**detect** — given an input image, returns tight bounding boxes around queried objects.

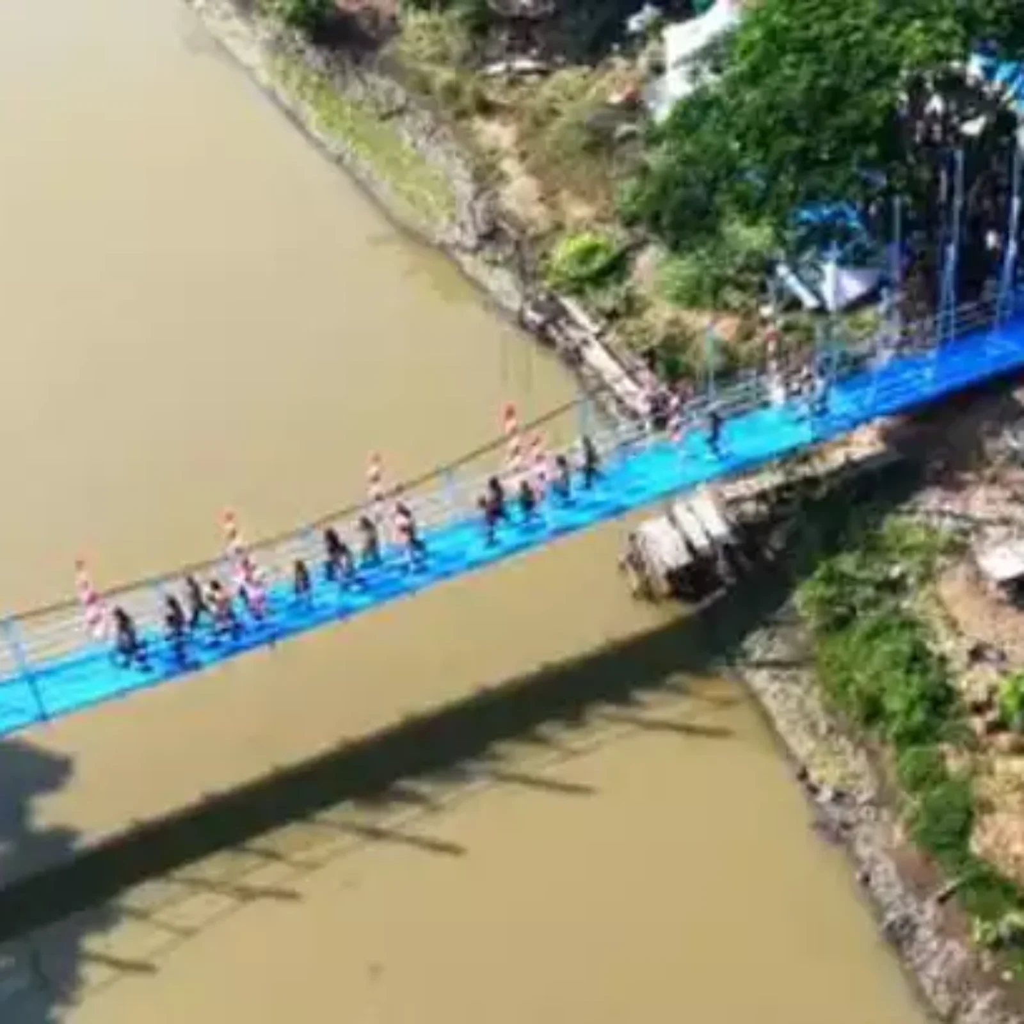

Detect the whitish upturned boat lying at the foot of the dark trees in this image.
[481,56,556,78]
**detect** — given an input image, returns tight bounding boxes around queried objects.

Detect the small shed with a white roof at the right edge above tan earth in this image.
[976,539,1024,614]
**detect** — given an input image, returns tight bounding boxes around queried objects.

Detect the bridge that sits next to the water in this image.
[0,94,1024,748]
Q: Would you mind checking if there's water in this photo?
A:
Yes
